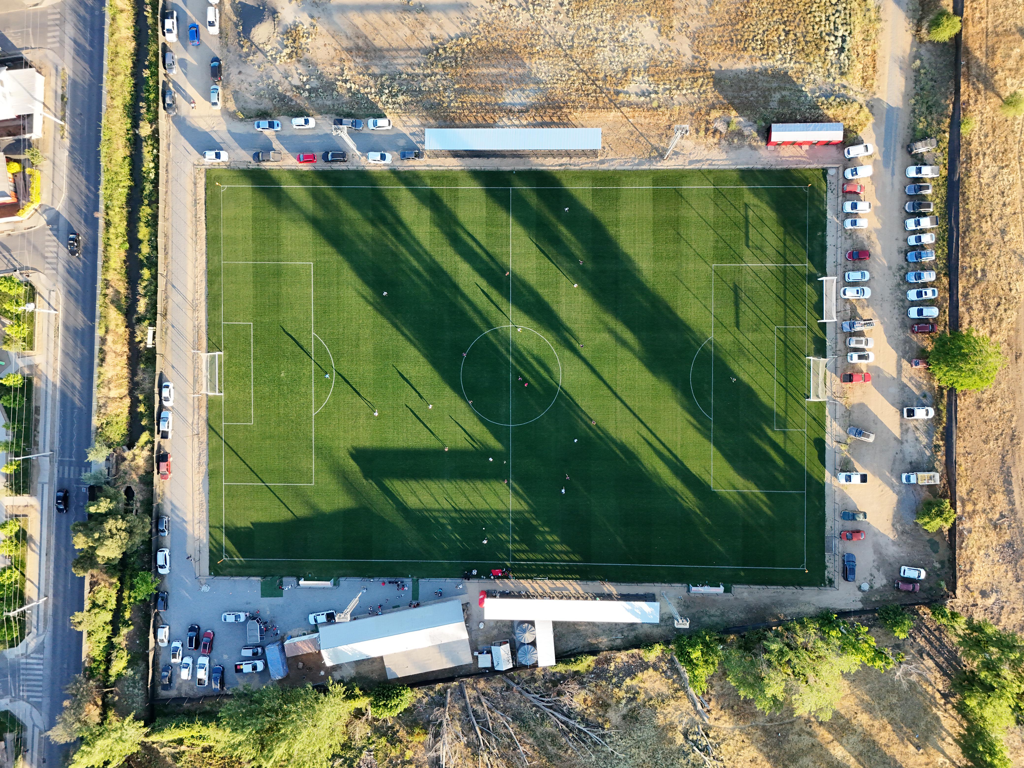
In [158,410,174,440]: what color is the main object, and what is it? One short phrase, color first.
white vehicle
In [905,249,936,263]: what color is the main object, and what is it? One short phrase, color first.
blue car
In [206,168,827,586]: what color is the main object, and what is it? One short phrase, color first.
green soccer field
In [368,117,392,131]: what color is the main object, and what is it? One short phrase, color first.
white car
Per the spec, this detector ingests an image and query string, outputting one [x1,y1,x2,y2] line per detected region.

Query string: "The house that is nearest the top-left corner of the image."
[0,65,43,137]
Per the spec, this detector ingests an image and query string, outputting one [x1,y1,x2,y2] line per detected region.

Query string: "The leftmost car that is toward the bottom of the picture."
[56,488,70,513]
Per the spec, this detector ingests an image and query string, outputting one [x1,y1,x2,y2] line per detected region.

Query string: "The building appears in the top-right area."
[768,123,843,146]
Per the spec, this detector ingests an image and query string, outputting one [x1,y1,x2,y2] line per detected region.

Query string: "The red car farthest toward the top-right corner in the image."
[841,182,864,195]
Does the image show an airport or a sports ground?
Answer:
sports ground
